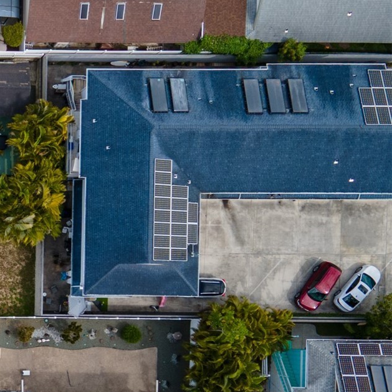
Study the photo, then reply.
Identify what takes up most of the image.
buildings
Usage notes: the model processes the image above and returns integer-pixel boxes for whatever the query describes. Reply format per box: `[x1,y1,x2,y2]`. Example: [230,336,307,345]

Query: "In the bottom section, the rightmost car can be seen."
[331,263,379,314]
